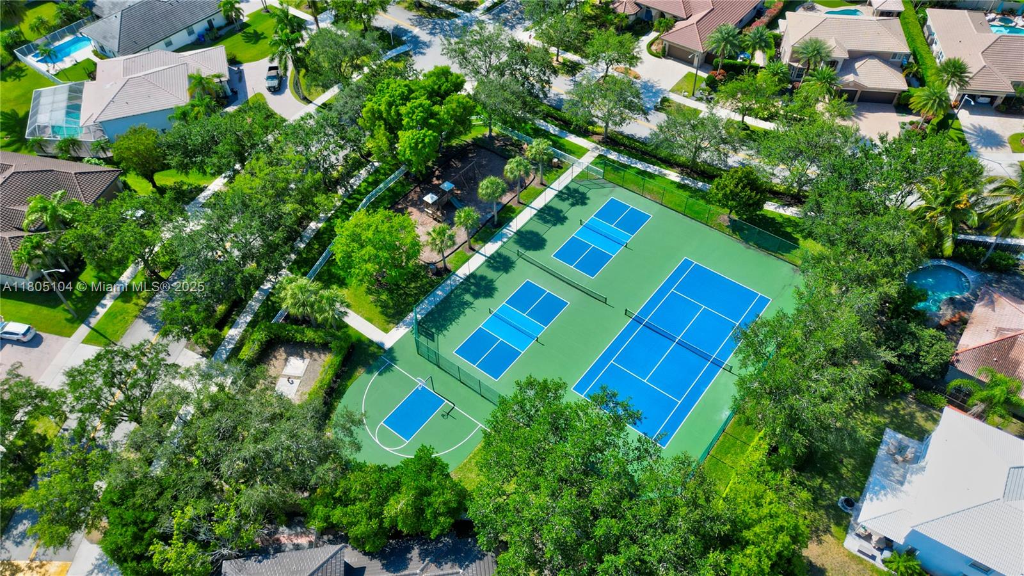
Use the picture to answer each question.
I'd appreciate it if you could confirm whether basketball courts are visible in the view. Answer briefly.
Yes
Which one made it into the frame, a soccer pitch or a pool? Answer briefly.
pool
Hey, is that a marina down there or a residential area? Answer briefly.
residential area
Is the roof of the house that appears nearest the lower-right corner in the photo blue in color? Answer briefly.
No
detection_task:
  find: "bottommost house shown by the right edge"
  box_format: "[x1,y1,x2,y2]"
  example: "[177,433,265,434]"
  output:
[849,404,1024,576]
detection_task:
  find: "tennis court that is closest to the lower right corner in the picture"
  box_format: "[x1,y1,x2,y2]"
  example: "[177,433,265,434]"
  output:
[572,257,770,448]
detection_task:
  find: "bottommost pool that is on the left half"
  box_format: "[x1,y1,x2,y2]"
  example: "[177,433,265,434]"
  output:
[52,102,82,138]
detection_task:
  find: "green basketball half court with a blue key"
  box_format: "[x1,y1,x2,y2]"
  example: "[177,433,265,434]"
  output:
[358,359,490,460]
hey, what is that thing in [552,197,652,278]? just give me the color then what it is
blue sports court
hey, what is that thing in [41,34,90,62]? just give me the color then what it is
blue swimming pool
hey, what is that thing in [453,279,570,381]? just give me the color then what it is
blue sports court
